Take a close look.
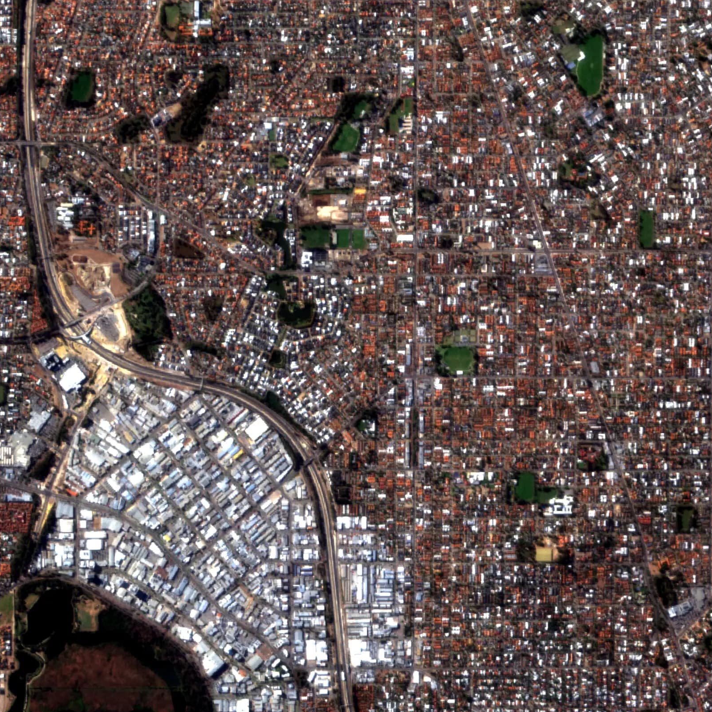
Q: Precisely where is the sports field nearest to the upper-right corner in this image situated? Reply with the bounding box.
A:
[576,33,603,96]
